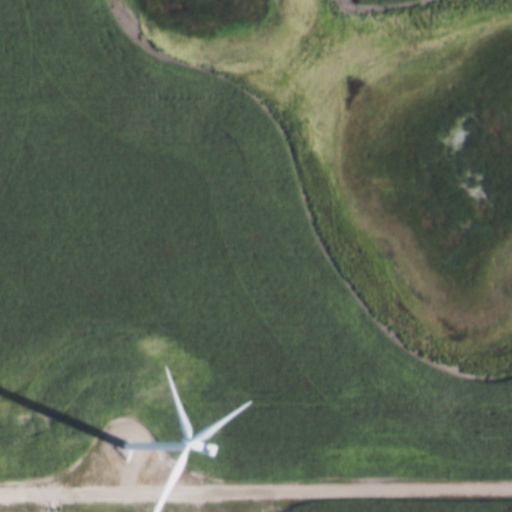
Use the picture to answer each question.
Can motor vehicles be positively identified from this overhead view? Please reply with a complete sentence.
No, no motor vehicle can be seen from above.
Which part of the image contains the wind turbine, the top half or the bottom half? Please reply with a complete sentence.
The bottom half of the photo is where the wind turbine is.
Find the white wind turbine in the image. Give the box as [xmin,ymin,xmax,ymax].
[122,366,252,512]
